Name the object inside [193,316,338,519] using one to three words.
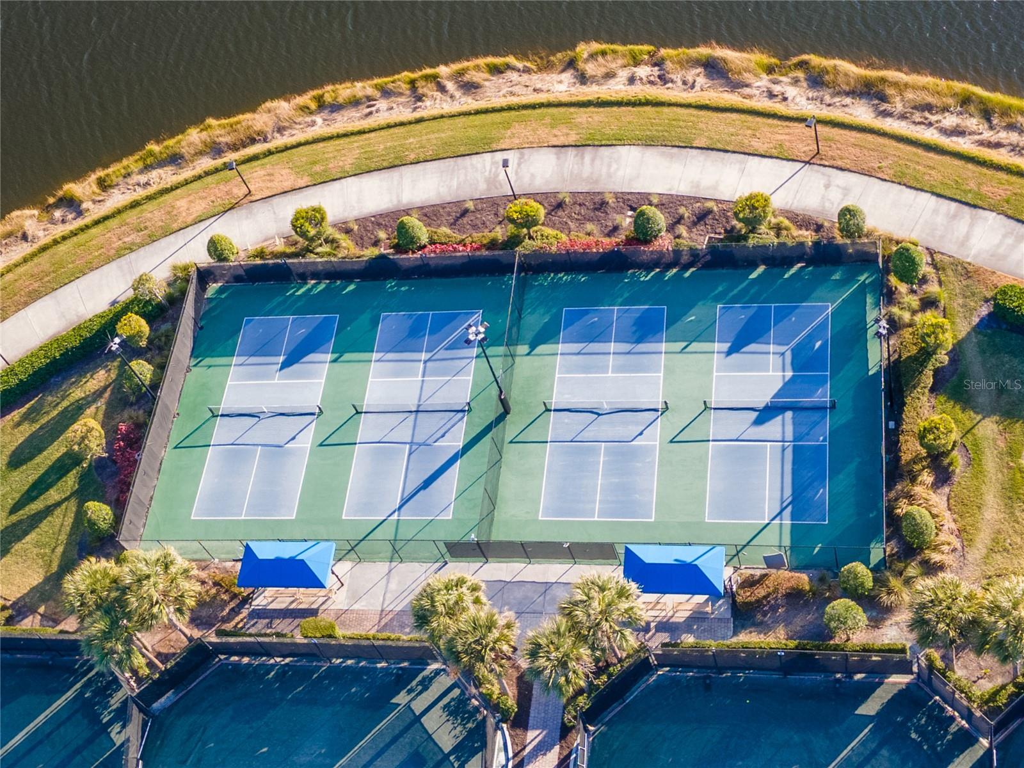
sports court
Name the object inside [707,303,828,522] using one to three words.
sports court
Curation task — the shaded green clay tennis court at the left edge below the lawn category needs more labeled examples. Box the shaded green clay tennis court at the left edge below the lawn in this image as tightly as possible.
[0,654,151,768]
